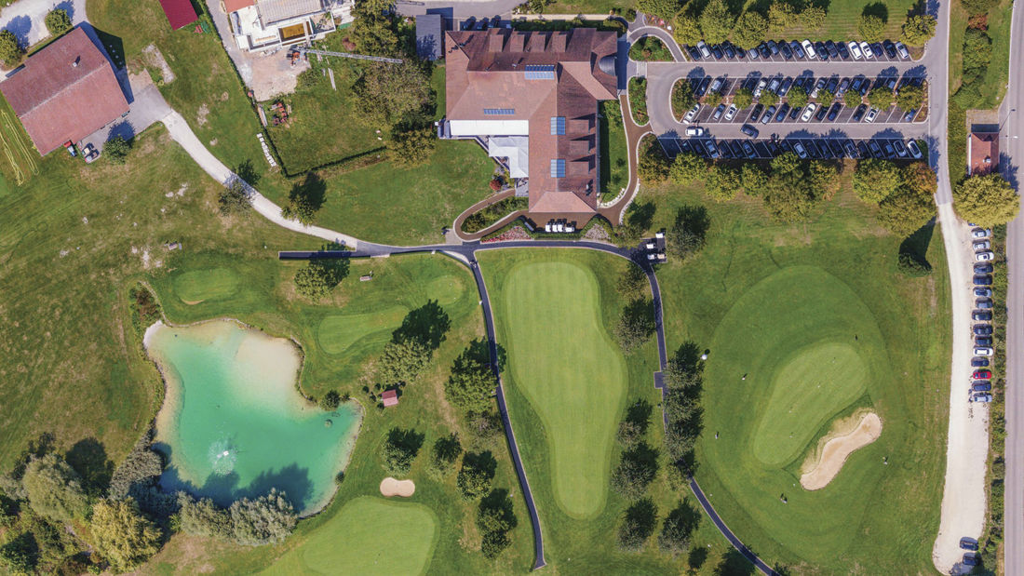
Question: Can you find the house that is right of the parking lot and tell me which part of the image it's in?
top right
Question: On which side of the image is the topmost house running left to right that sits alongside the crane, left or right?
left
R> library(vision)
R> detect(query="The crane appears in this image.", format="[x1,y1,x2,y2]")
[289,45,403,68]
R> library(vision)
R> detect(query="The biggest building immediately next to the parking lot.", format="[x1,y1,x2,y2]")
[445,28,616,212]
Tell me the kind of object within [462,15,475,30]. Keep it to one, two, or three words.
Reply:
vehicle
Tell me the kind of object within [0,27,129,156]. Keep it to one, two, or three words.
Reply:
barn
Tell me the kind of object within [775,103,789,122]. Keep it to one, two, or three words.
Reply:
car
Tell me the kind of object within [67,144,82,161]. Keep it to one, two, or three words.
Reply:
work vehicle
